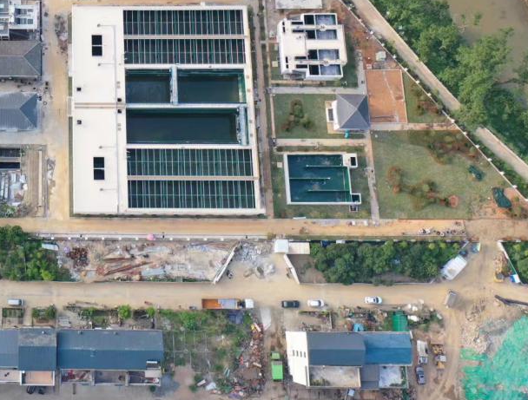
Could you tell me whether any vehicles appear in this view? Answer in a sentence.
Yes, there's a vehicle here.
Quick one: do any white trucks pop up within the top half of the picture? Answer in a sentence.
No, no white truck appears within the top half of the picture.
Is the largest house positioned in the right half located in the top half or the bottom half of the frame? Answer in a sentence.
The largest house positioned in the right half sits in the bottom half of the picture.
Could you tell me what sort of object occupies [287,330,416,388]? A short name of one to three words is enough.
house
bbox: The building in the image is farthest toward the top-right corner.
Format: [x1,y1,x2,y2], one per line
[326,95,370,134]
